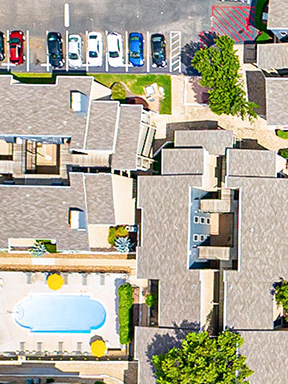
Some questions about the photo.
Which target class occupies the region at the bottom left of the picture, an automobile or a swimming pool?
swimming pool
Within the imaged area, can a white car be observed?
Yes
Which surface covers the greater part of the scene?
buildings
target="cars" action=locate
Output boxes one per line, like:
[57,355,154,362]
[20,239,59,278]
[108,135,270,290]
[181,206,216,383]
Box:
[46,32,66,68]
[106,31,125,67]
[85,31,105,67]
[6,30,27,65]
[127,31,146,67]
[150,32,168,68]
[0,30,7,61]
[66,33,85,69]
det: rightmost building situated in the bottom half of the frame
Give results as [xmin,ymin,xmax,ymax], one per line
[134,130,288,384]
